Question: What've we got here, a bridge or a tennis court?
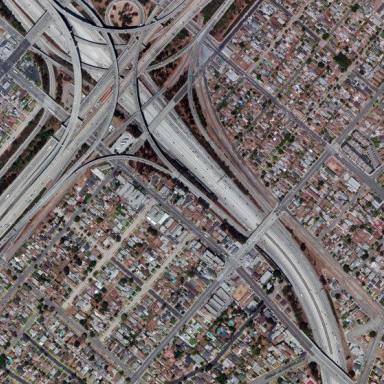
bridge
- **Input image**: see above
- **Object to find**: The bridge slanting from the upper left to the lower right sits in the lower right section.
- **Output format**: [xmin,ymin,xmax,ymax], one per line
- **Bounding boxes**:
[302,339,359,384]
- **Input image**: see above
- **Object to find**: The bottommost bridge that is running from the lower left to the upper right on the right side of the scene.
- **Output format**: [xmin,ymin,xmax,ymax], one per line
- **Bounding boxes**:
[230,202,284,260]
